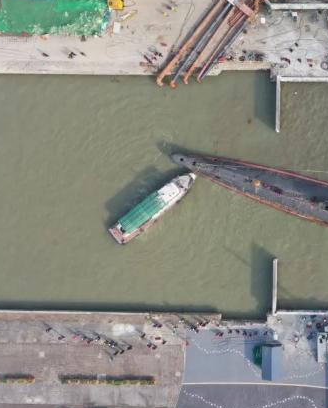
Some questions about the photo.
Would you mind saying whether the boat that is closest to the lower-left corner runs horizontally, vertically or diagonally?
diagonally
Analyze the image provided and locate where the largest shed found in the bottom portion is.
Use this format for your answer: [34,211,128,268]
[260,341,286,382]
